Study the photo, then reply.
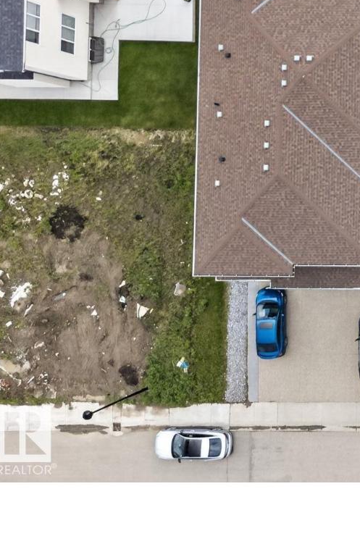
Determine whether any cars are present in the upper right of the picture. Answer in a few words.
No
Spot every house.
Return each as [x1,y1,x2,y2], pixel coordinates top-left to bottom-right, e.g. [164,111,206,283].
[192,0,360,290]
[0,0,102,92]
